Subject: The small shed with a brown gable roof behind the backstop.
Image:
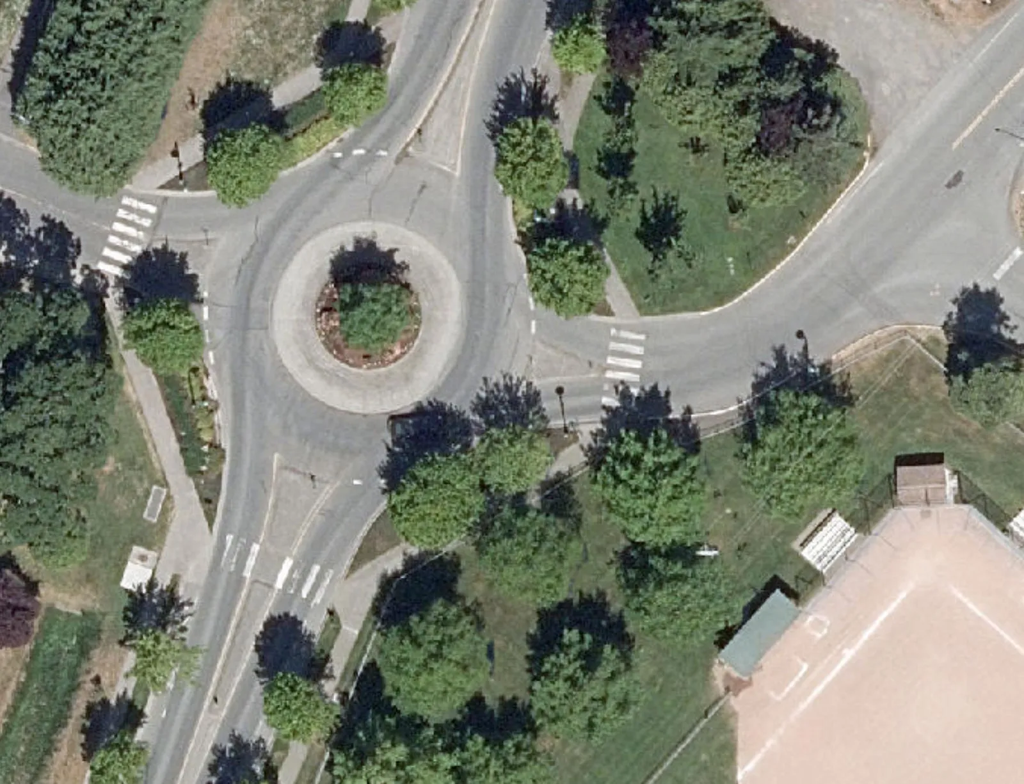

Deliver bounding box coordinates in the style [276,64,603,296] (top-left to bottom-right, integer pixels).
[896,462,947,507]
